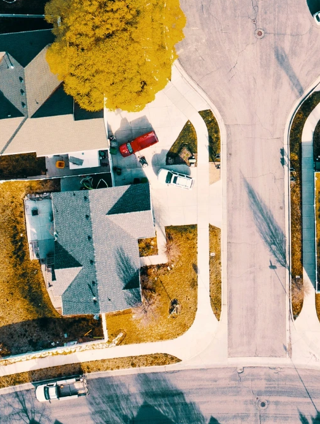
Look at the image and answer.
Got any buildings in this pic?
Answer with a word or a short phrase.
Yes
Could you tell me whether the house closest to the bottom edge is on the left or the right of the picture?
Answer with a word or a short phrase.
left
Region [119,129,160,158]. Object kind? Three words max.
truck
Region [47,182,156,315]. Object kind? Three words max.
house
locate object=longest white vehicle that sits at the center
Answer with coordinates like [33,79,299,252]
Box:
[155,168,196,191]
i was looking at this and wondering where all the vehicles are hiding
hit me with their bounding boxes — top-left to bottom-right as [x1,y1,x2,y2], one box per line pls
[313,11,320,26]
[137,155,149,168]
[119,129,160,158]
[155,168,196,191]
[36,380,87,403]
